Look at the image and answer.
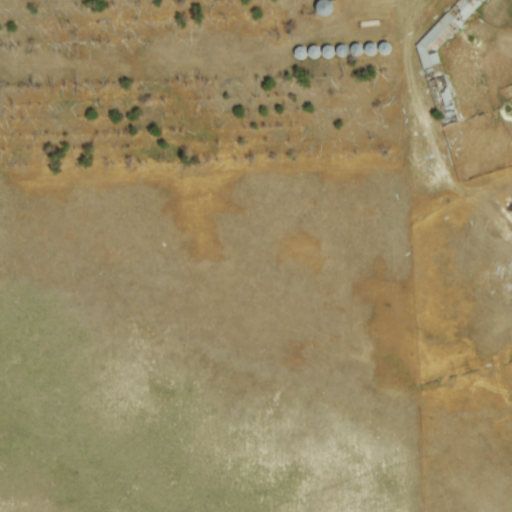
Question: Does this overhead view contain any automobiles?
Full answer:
No, no automobile is visible in the view.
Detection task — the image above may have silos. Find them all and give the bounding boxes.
[322,45,335,60]
[364,42,378,56]
[336,44,349,58]
[316,0,334,18]
[378,42,392,56]
[294,46,308,60]
[350,42,364,57]
[308,46,322,60]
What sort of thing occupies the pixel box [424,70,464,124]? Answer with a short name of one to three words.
building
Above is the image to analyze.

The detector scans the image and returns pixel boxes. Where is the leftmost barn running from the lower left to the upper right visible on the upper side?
[416,3,466,69]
